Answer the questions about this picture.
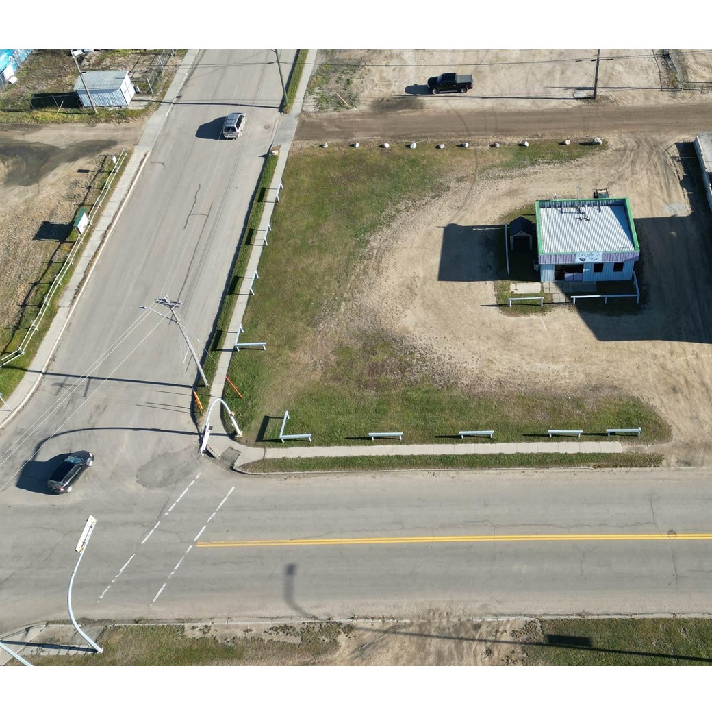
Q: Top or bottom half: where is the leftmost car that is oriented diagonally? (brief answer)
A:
bottom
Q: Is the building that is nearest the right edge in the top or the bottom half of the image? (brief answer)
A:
top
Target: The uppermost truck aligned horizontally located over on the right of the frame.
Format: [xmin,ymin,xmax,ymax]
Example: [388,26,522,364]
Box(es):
[427,73,475,94]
